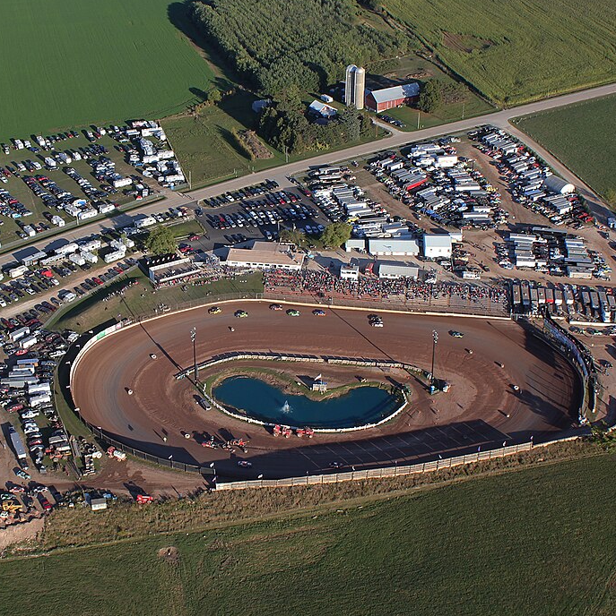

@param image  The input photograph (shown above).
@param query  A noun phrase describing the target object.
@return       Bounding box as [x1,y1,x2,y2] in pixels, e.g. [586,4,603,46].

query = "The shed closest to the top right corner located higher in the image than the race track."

[543,168,578,192]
